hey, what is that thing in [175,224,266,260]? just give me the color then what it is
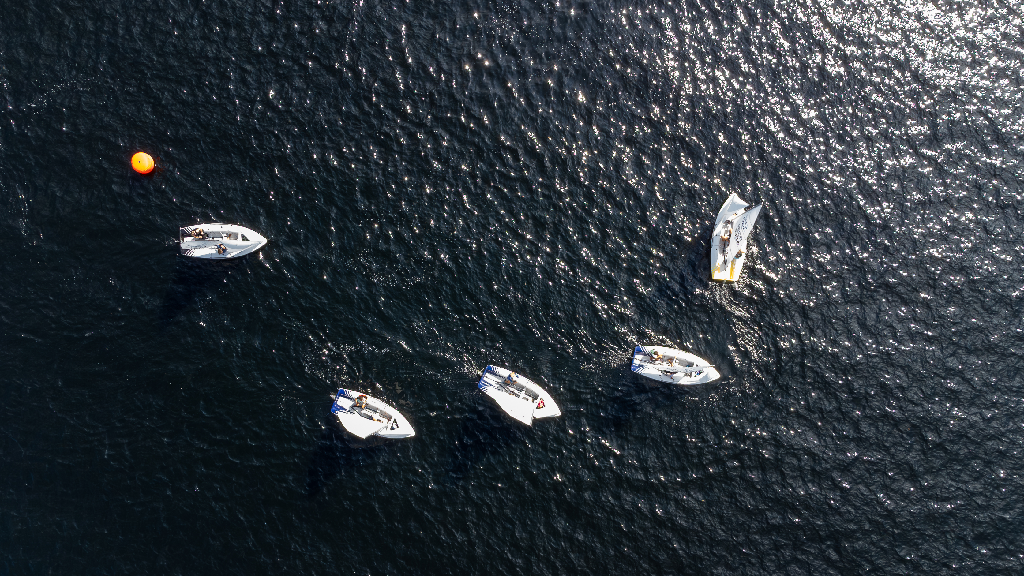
white boat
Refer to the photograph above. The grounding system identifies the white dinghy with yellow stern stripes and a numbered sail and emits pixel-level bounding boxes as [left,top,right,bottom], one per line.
[710,192,761,287]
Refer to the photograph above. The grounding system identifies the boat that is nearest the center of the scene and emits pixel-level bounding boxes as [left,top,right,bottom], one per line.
[476,365,561,425]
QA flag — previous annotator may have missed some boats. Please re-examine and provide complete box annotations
[710,192,761,287]
[175,224,266,260]
[330,388,415,441]
[476,365,561,425]
[627,344,720,385]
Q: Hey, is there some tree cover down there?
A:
No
